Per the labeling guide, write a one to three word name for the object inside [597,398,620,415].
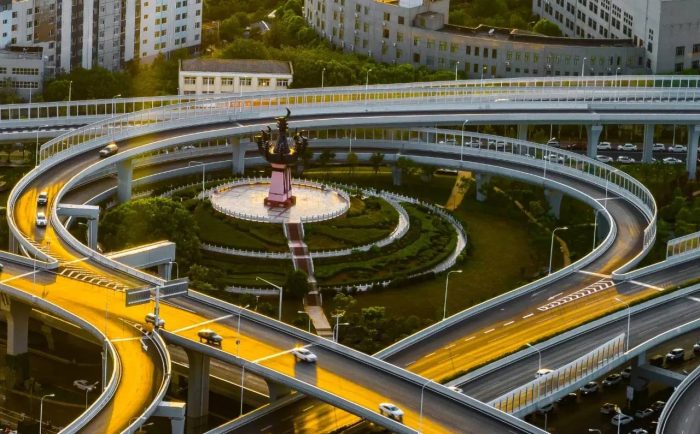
car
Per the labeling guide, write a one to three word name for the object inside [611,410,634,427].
car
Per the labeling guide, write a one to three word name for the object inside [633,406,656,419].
vehicle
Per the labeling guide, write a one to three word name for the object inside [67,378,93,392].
vehicle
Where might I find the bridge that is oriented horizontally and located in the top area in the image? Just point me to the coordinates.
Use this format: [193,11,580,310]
[0,85,700,176]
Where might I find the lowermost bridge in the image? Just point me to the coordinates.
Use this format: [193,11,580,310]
[0,252,554,434]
